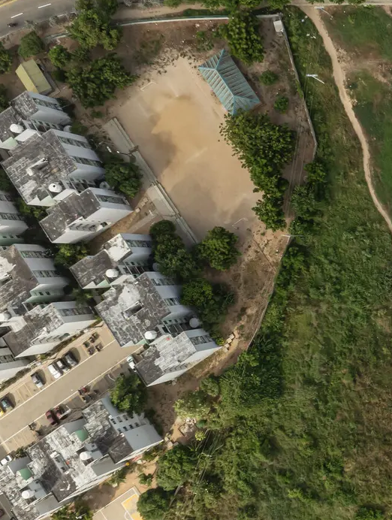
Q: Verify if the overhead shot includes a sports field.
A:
Yes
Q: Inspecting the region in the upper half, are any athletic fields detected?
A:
Yes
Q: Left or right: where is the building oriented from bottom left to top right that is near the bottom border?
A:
left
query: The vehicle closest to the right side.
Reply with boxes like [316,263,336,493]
[122,352,137,371]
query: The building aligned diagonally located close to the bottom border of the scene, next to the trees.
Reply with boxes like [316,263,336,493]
[0,392,162,520]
